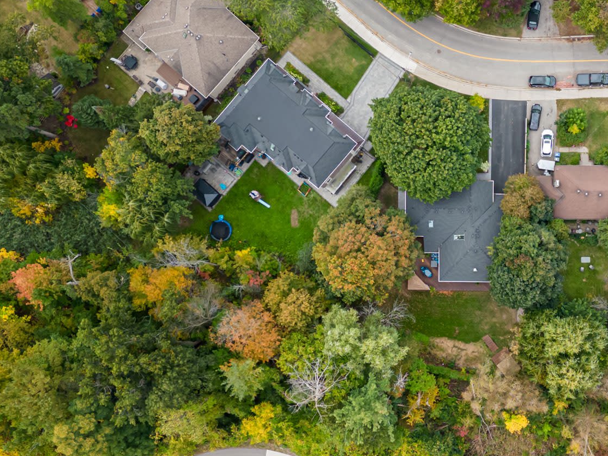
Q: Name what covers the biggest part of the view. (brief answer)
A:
trees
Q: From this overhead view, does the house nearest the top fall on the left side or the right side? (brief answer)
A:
left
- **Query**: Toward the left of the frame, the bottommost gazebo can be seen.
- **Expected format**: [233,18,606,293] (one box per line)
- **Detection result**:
[192,179,226,208]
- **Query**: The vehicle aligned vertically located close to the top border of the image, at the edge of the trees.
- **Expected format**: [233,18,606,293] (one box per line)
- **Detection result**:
[527,0,542,31]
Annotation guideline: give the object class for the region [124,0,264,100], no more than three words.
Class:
house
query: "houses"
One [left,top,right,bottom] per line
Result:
[214,58,366,195]
[537,165,608,220]
[406,178,505,282]
[124,0,264,100]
